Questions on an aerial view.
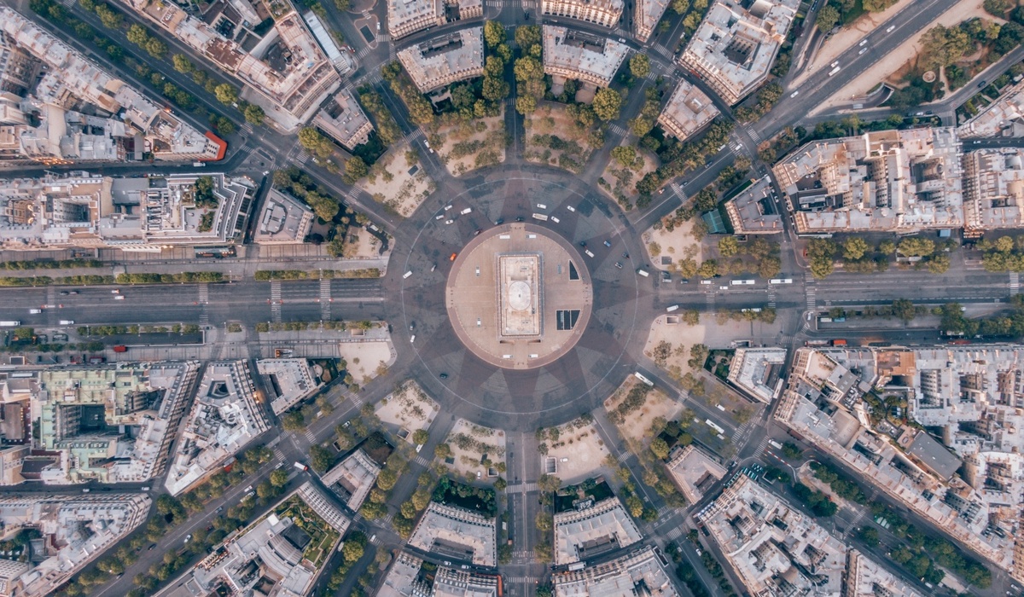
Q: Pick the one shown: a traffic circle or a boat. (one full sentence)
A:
The image shows a traffic circle.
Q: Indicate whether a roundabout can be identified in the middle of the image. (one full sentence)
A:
Yes, a roundabout can be seen in the middle of the image.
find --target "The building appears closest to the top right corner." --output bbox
[962,84,1024,145]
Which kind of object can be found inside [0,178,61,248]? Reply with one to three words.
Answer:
building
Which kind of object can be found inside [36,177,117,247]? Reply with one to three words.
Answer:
building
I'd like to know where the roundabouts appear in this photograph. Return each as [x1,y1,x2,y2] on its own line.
[386,163,652,429]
